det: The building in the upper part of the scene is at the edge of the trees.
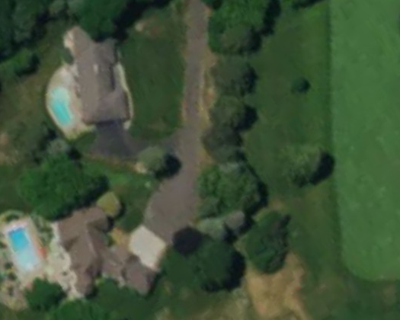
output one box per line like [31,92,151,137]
[65,23,130,126]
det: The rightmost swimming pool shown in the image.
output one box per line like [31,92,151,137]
[46,64,95,139]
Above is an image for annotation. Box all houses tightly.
[65,23,130,126]
[51,197,164,302]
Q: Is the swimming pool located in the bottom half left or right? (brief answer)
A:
left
